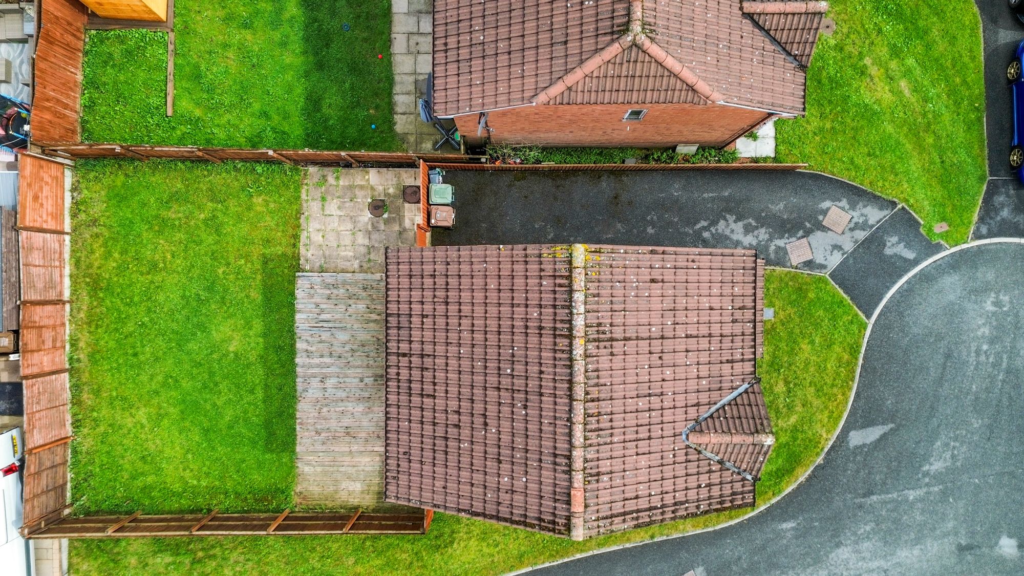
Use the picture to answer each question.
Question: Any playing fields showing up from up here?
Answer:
No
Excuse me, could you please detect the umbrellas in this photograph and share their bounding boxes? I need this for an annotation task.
[420,102,460,149]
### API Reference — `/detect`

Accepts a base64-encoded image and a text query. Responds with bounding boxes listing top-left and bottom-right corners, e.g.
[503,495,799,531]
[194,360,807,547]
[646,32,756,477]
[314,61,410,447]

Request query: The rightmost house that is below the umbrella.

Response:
[382,240,777,538]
